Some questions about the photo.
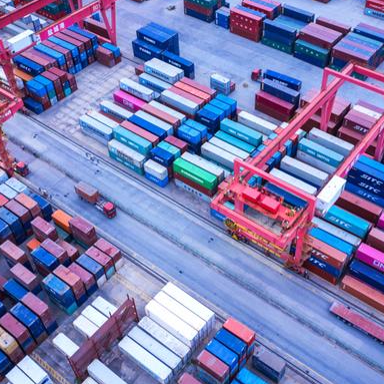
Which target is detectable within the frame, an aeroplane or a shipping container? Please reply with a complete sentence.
The one in the frame is a shipping container.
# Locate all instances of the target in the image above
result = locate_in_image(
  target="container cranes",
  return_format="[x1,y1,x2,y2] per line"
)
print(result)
[0,91,23,180]
[0,0,121,111]
[208,63,384,275]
